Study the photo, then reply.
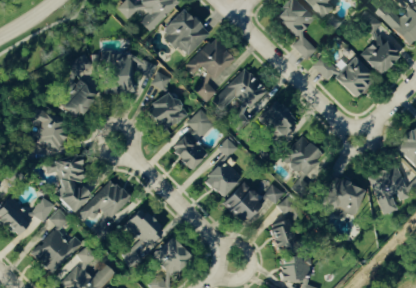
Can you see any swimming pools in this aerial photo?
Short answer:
Yes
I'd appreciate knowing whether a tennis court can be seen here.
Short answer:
No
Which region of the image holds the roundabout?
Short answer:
bottom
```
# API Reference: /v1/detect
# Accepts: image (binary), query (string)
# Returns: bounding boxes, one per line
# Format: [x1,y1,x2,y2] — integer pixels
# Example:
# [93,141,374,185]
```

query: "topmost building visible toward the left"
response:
[118,0,178,31]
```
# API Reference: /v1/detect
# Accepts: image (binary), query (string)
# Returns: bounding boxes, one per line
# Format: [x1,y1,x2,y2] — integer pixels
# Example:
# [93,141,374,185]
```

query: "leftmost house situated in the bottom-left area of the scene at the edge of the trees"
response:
[0,198,54,236]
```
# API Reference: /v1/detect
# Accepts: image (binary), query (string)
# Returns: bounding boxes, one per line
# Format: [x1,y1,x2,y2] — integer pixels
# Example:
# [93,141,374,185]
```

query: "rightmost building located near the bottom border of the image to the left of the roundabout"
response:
[150,242,186,288]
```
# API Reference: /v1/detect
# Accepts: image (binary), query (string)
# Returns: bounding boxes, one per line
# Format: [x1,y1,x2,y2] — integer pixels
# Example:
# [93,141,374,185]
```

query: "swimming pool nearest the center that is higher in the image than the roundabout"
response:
[200,127,224,150]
